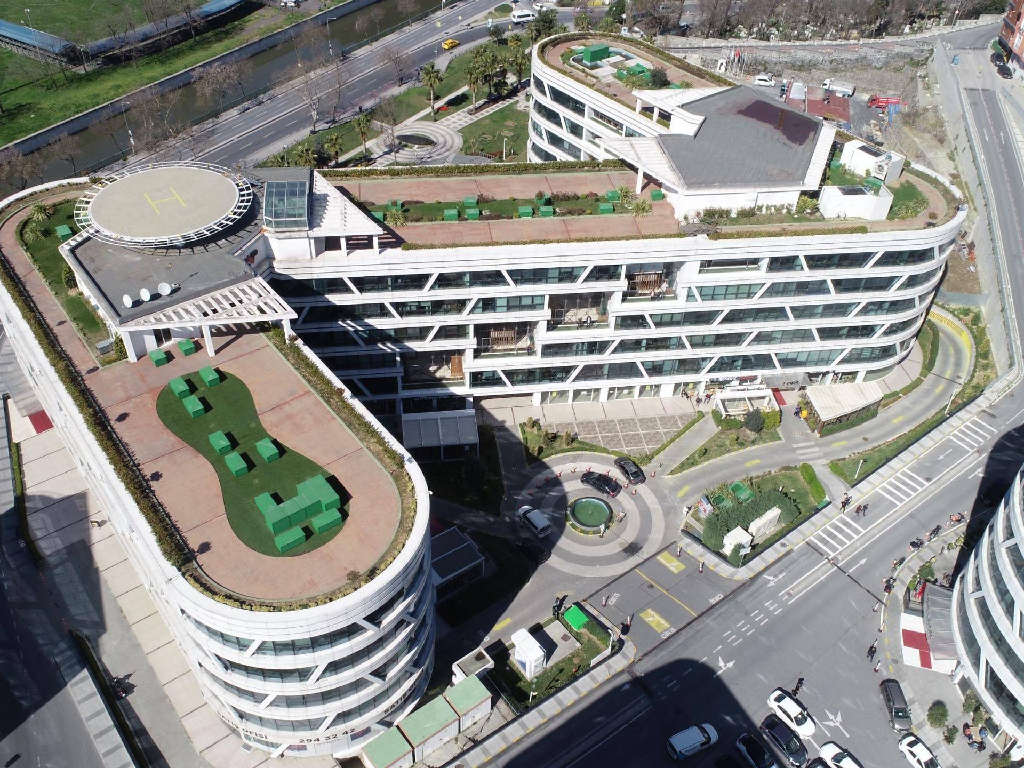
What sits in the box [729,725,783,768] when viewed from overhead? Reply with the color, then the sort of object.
black car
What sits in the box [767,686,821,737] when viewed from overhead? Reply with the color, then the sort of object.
white car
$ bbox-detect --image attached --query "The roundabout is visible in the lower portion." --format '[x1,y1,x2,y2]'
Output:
[493,453,687,592]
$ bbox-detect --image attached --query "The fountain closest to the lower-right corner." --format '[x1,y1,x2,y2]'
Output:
[558,490,623,539]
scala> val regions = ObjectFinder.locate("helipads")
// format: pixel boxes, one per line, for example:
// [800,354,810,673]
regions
[75,160,262,246]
